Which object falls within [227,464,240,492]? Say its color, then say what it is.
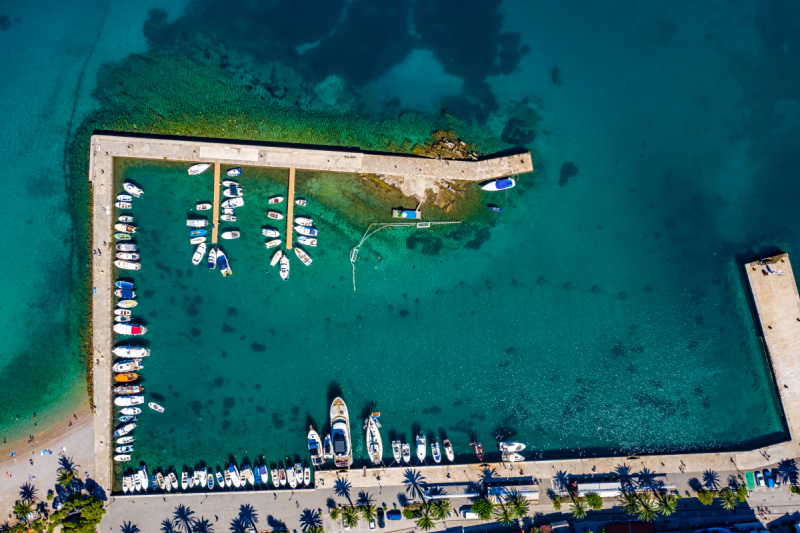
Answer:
white boat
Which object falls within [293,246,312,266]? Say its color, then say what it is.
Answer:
white boat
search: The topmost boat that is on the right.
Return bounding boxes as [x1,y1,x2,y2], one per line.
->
[482,177,518,190]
